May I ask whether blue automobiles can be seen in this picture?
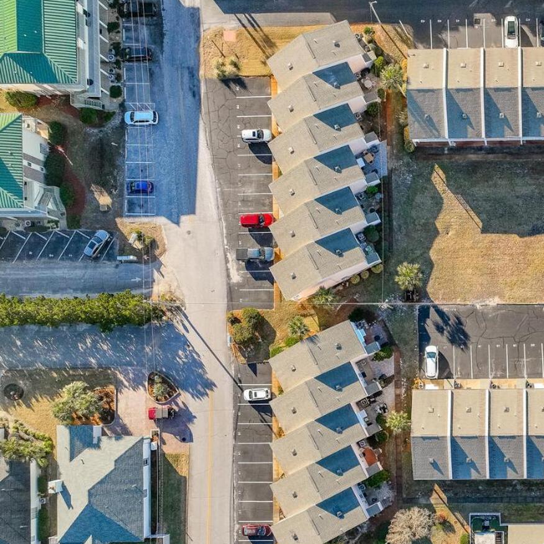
Yes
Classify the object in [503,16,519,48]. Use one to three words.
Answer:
car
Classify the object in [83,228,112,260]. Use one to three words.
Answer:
car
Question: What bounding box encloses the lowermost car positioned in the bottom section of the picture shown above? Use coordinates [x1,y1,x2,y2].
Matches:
[241,523,274,539]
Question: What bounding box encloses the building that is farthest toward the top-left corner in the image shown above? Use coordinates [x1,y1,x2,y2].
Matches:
[0,0,109,109]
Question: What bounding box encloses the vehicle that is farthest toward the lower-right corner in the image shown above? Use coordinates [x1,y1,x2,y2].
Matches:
[423,345,438,377]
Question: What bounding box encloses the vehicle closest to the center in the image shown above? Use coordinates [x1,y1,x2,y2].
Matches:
[235,246,275,261]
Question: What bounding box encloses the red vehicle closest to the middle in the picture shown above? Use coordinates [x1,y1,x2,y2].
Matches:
[239,212,276,228]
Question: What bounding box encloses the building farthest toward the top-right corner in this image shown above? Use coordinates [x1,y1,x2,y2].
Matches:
[405,46,544,152]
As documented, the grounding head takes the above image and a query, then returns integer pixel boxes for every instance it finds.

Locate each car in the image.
[538,16,544,48]
[423,345,438,377]
[239,212,276,228]
[83,228,112,260]
[124,109,160,125]
[244,386,271,402]
[241,523,274,539]
[240,127,274,143]
[503,16,519,48]
[125,179,155,195]
[120,45,154,62]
